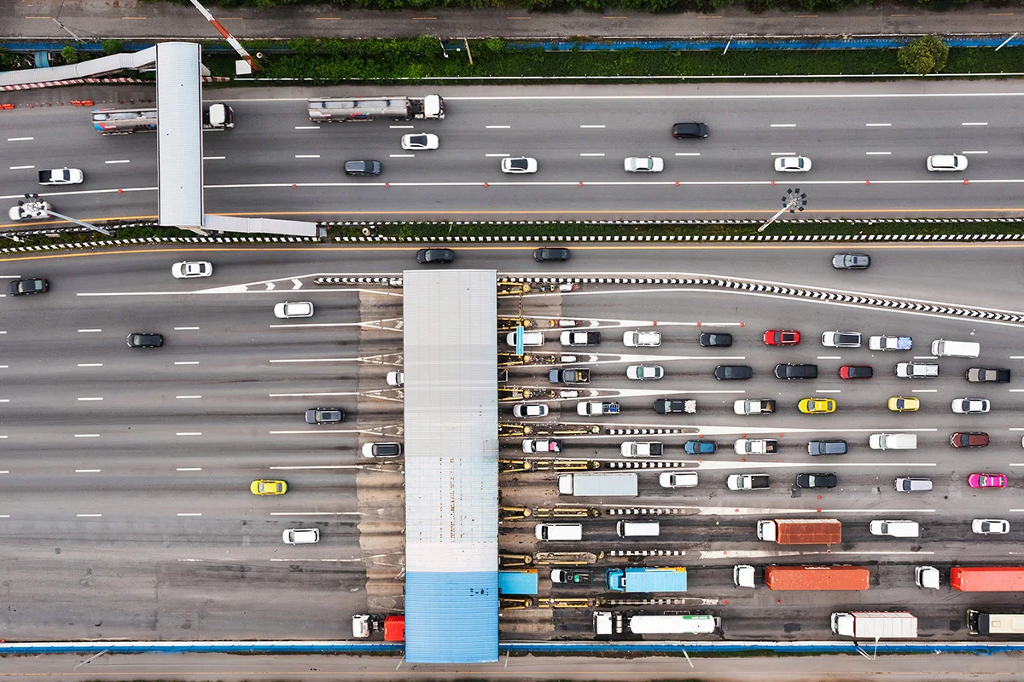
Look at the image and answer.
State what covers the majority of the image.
paved ground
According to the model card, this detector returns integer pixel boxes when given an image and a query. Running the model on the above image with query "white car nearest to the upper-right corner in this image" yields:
[924,153,967,172]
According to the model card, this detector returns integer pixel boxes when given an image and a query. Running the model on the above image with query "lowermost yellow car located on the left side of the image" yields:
[250,479,289,496]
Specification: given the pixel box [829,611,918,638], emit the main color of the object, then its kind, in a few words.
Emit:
white truck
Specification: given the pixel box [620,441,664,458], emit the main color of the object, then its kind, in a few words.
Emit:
white vehicle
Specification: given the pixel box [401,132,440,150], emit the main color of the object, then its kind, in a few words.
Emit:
white car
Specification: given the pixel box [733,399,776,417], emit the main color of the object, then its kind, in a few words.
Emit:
white vehicle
